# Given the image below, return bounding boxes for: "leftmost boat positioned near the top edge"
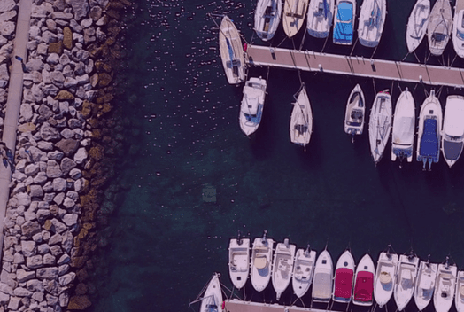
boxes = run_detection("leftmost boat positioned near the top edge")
[214,14,249,85]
